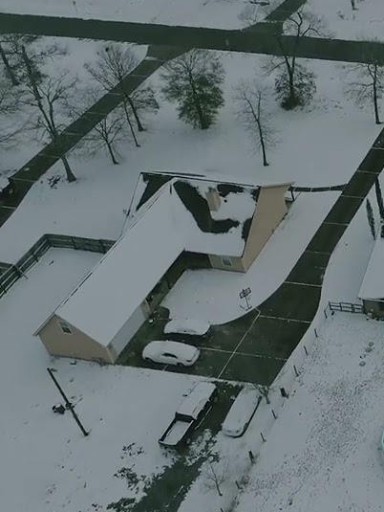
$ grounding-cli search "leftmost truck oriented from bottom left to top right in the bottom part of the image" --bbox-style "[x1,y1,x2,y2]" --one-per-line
[151,378,223,449]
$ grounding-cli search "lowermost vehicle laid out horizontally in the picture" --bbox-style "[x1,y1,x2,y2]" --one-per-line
[139,341,202,370]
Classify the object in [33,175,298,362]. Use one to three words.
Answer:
house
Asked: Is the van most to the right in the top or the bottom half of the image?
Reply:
bottom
